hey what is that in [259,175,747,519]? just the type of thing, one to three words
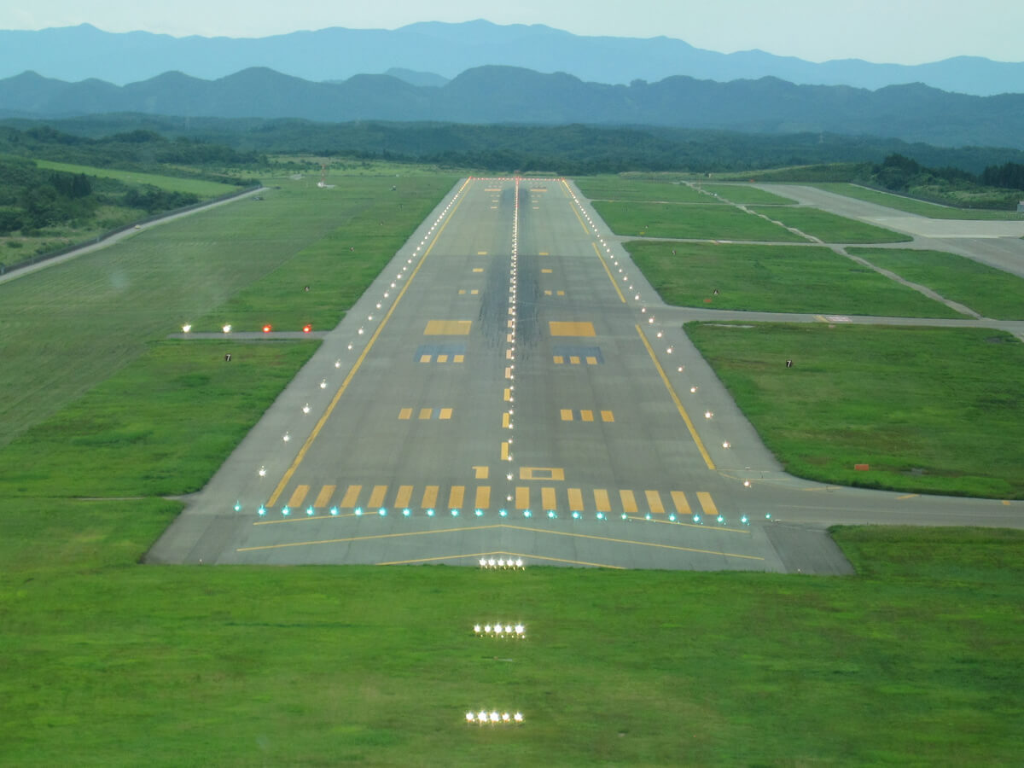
runway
